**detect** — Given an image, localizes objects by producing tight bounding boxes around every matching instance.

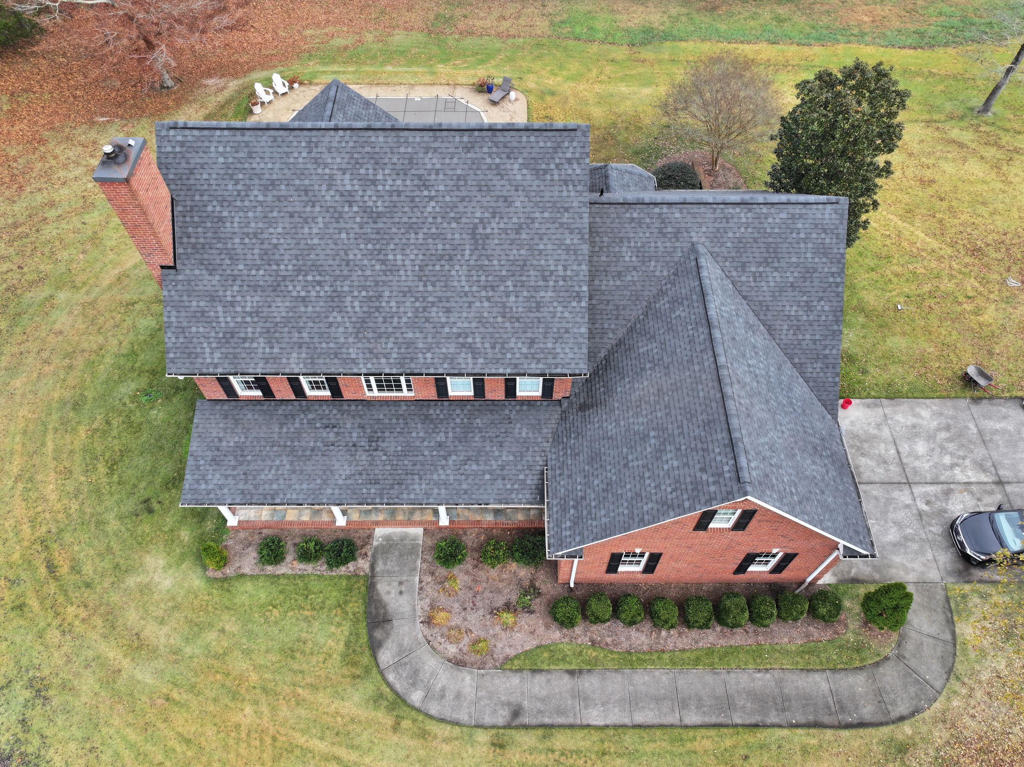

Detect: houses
[93,79,884,596]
